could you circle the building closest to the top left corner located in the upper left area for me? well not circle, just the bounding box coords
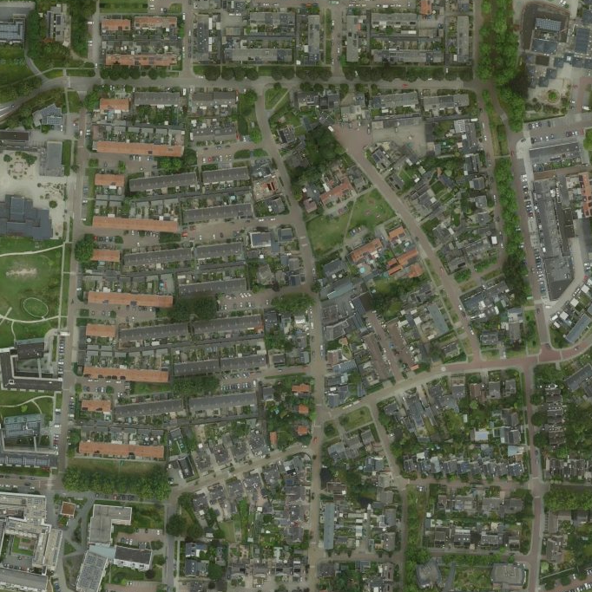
[0,18,26,44]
